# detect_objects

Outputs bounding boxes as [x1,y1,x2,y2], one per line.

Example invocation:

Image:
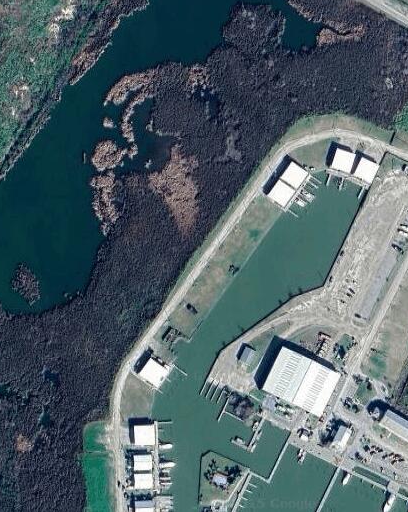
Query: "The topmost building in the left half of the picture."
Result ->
[138,358,168,387]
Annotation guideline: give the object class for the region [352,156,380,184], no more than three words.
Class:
building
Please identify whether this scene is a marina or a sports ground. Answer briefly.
marina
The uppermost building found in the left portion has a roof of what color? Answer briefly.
white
